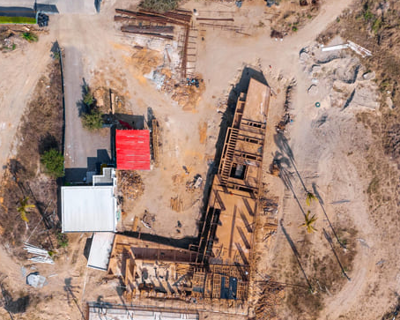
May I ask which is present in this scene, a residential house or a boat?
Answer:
residential house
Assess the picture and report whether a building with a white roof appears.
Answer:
Yes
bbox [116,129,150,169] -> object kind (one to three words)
shed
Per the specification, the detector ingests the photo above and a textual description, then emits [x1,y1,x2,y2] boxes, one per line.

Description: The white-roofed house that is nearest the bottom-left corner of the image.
[61,167,119,233]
